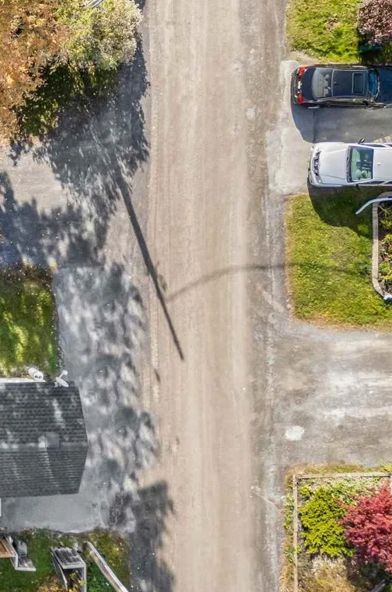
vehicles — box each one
[304,134,392,194]
[289,57,392,115]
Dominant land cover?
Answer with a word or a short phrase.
paved ground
